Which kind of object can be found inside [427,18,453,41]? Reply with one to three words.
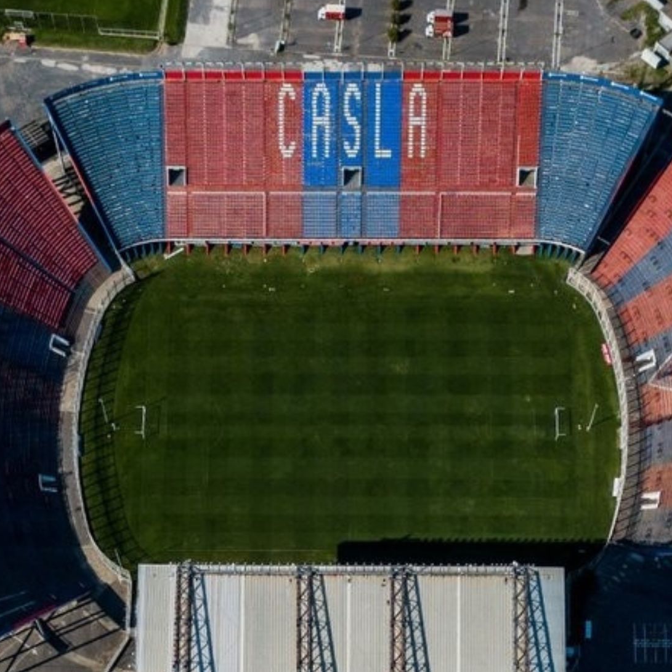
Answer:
truck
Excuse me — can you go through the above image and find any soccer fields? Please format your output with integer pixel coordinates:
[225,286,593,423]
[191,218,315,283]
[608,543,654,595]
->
[0,0,162,55]
[79,245,624,626]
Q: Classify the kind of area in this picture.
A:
sports ground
